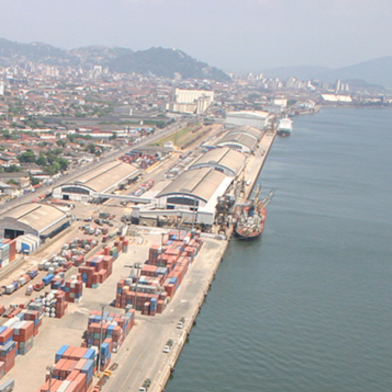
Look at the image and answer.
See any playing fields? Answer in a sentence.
No, the photo shows no playing field.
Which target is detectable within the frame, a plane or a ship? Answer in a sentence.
There is a ship in the scene.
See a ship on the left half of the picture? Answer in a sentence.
No, I see no ship on the left half of the picture.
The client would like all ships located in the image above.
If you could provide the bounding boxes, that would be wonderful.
[278,107,293,136]
[235,182,285,243]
